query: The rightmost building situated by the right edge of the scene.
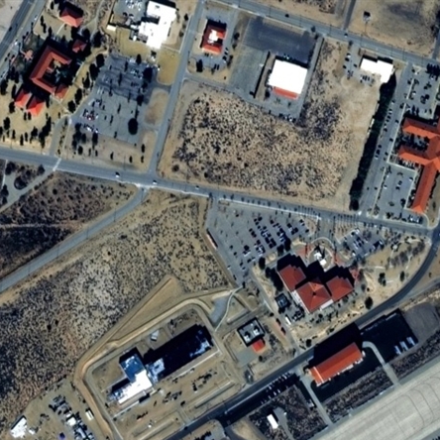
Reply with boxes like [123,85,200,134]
[399,118,440,214]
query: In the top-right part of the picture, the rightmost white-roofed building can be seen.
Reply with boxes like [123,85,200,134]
[360,58,395,83]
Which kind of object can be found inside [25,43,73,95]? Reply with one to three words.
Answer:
building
